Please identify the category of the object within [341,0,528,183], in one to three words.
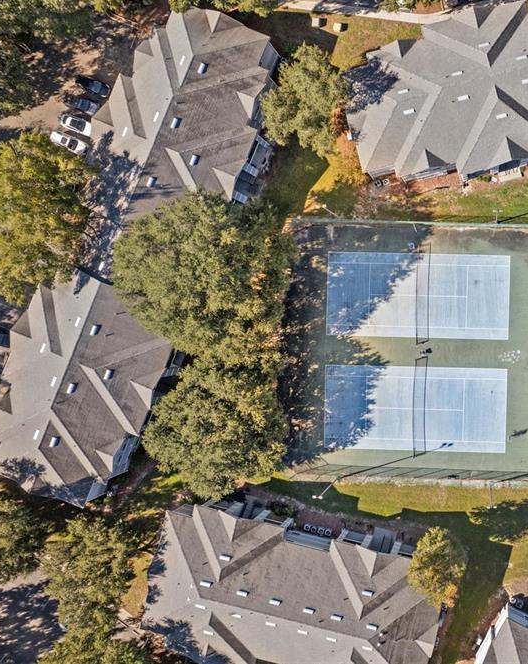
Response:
building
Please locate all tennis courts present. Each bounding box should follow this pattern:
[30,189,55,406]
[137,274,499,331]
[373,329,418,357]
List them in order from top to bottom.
[326,251,511,340]
[324,365,508,453]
